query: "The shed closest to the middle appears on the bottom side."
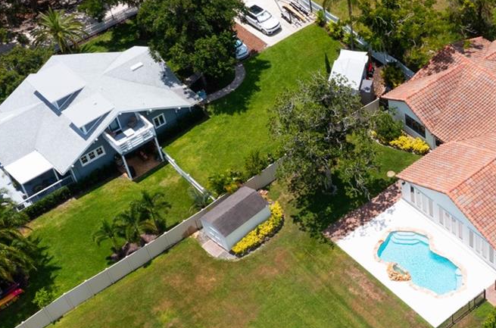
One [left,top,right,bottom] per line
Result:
[195,182,272,256]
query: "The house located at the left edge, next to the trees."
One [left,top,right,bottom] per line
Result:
[0,46,193,213]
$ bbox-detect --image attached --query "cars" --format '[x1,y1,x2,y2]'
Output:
[243,0,283,32]
[223,33,249,64]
